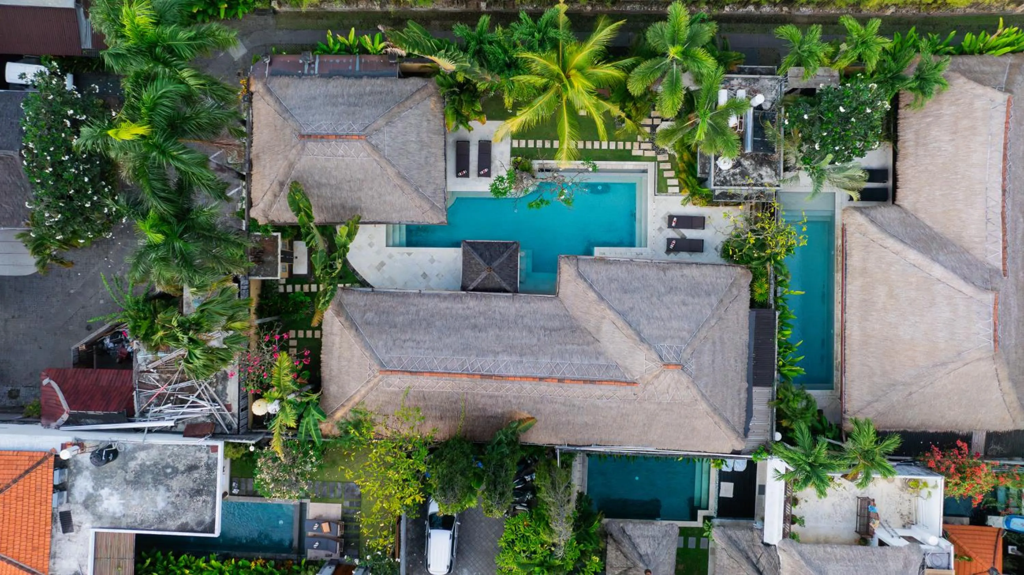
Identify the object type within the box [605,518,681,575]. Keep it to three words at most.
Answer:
shed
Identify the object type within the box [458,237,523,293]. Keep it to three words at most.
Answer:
gazebo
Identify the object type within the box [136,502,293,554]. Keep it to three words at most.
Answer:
swimming pool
